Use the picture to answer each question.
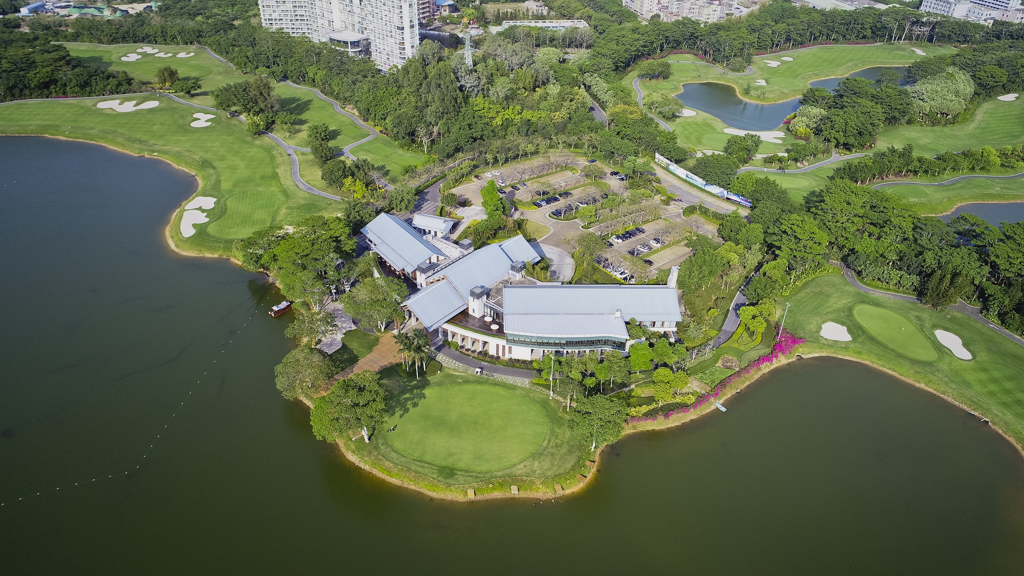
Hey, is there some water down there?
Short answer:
Yes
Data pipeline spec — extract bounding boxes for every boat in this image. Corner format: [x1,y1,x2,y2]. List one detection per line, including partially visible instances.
[715,401,726,412]
[268,301,292,317]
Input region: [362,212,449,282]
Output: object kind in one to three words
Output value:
building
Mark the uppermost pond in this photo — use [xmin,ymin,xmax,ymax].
[673,66,918,131]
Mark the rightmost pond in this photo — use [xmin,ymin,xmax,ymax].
[926,201,1024,252]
